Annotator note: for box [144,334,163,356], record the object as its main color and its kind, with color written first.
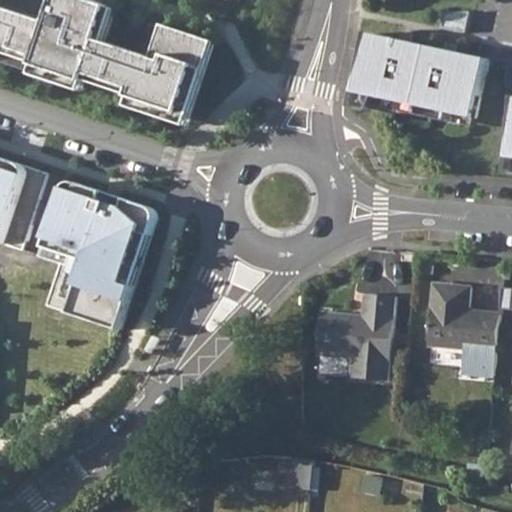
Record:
white vehicle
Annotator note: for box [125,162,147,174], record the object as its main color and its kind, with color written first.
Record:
white vehicle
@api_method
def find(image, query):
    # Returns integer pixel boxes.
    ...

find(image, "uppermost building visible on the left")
[0,0,222,126]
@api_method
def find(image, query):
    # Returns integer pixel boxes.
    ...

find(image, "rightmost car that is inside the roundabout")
[309,216,328,238]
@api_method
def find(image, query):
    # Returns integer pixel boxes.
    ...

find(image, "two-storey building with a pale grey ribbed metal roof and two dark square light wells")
[347,33,484,128]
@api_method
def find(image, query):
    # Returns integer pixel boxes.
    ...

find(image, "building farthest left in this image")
[0,159,52,250]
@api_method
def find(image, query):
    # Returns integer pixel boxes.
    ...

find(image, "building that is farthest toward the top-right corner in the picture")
[442,10,471,34]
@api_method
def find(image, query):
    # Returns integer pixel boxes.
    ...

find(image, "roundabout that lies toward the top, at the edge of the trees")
[202,124,358,283]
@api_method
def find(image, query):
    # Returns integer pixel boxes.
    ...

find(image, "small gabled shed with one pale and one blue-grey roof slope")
[299,464,322,494]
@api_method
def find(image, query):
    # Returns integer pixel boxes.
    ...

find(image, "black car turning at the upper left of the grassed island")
[240,164,257,185]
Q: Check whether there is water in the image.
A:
No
